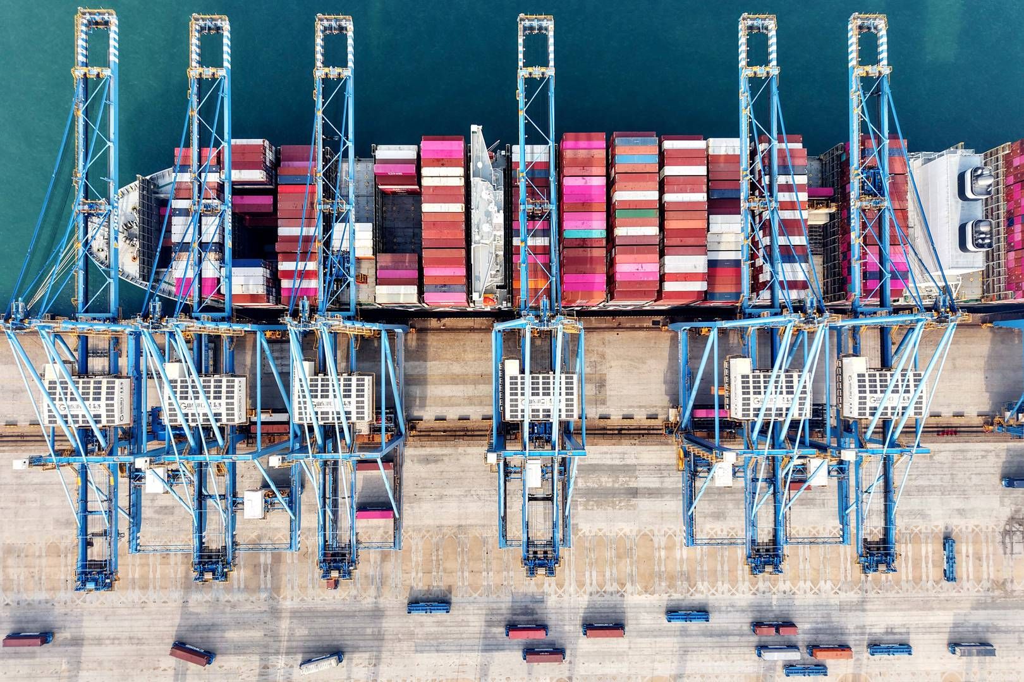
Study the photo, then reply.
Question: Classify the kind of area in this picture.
port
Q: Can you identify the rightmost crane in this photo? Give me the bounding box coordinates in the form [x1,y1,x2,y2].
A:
[990,323,1024,548]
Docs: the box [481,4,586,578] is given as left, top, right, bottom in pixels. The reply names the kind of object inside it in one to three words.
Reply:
container crane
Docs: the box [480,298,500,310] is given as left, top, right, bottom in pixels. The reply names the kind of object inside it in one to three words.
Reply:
boat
